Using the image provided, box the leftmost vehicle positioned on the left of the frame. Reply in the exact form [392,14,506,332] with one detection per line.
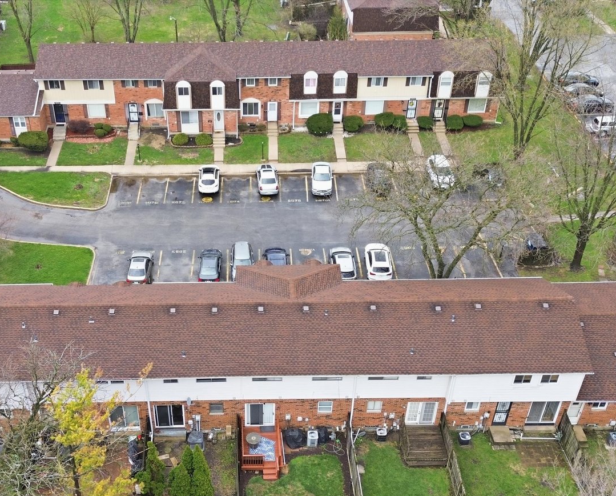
[126,246,154,283]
